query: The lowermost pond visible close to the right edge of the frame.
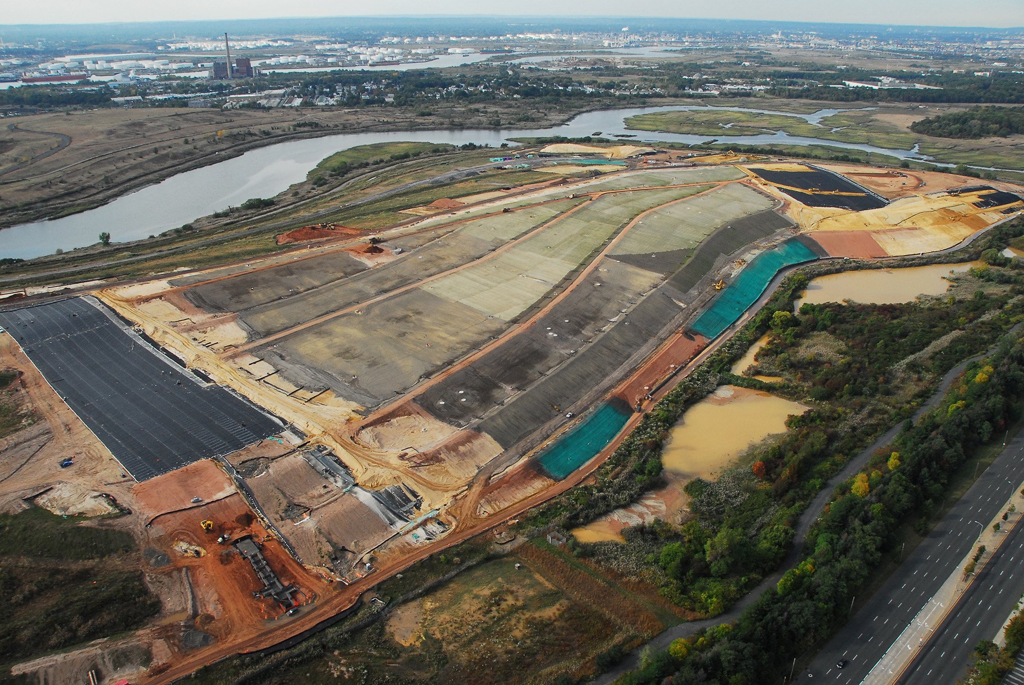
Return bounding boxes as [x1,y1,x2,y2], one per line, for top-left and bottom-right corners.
[795,261,988,305]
